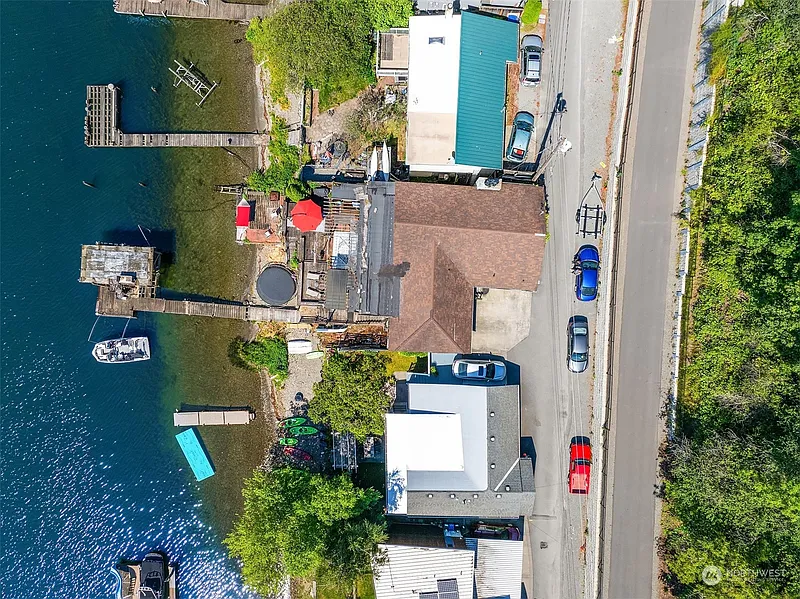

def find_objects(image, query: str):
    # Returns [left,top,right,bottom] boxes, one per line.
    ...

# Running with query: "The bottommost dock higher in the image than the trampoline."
[82,86,271,155]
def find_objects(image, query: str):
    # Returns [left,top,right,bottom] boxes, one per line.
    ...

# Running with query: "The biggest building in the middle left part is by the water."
[79,244,302,322]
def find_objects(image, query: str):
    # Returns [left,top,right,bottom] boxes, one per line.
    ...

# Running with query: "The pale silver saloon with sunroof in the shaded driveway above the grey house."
[451,357,507,383]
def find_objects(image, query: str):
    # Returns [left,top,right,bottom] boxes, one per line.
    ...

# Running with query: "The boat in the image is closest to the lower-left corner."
[113,559,141,599]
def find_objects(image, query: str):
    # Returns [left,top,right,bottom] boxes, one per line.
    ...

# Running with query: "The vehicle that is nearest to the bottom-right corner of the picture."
[565,440,591,495]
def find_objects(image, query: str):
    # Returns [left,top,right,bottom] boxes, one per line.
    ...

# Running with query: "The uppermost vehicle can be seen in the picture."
[519,35,546,92]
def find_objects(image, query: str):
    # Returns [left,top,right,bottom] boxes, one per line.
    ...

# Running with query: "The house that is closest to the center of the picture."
[332,180,547,356]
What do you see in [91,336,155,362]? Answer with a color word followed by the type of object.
white boat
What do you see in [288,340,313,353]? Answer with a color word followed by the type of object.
white boat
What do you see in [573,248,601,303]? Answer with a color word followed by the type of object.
blue car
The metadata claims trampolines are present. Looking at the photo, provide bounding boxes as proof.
[255,264,297,305]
